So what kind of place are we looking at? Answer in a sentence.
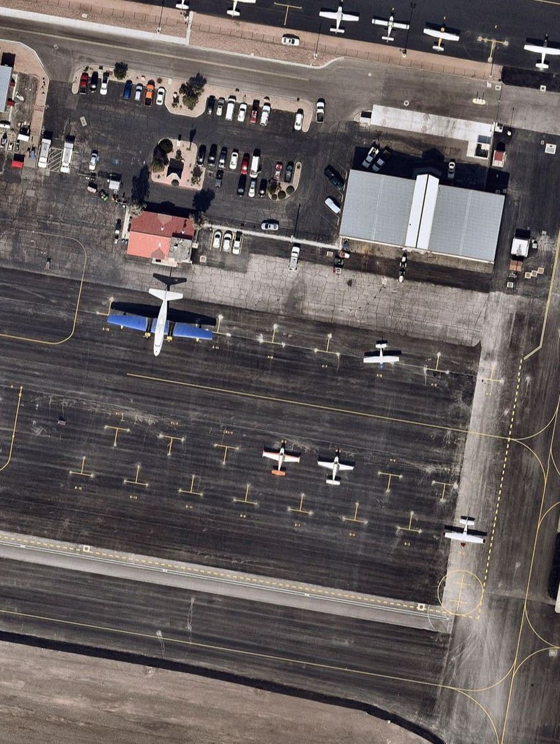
What you see here is an airport.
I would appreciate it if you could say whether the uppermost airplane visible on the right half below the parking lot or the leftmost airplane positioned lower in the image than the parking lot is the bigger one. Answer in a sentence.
It is the leftmost airplane positioned lower in the image than the parking lot that is larger, not the uppermost airplane visible on the right half below the parking lot.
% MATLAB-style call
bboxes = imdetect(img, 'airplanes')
[227,0,256,15]
[424,25,460,50]
[363,343,400,369]
[318,456,355,484]
[262,446,300,474]
[108,283,213,360]
[319,5,359,37]
[372,12,410,43]
[446,522,487,547]
[525,39,560,68]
